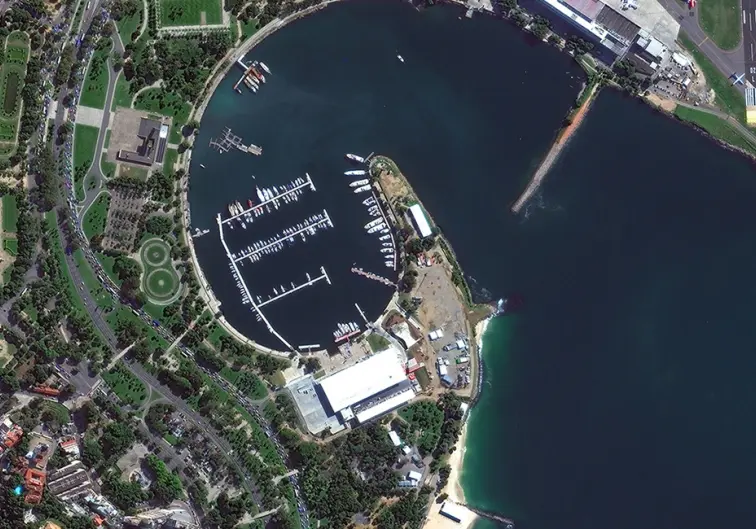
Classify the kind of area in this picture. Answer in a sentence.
It's a port.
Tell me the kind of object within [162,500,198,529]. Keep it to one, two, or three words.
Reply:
house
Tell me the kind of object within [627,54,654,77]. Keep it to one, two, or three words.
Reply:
shed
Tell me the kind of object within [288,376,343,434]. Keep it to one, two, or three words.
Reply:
building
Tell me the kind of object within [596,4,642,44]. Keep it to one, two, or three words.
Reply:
hangar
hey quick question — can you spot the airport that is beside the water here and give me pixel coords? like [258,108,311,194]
[602,0,756,158]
